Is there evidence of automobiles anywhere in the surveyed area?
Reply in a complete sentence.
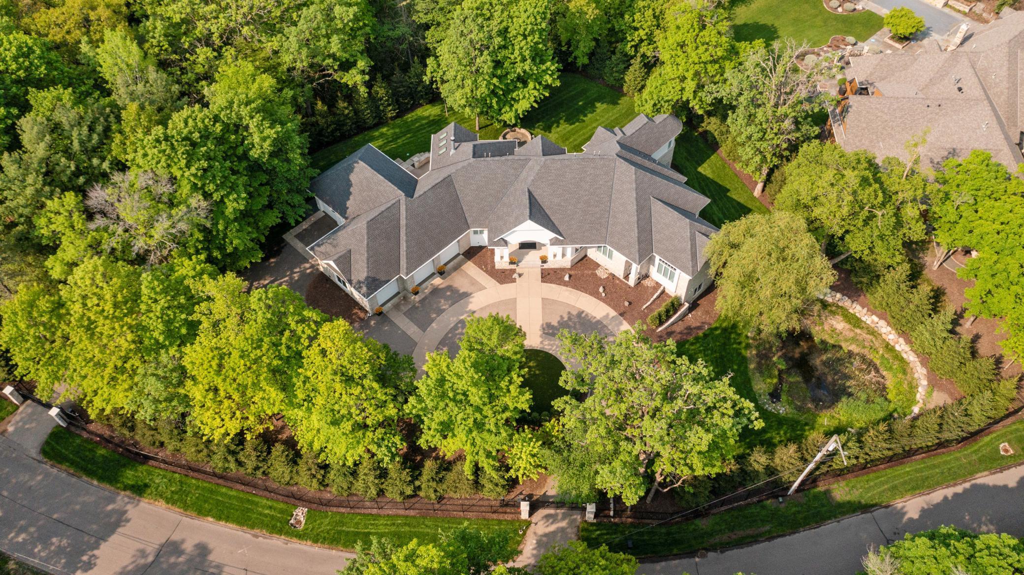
No, the picture doesn't show any automobile.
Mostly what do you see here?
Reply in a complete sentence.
The scene is dominated by trees.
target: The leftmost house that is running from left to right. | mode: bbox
[306,114,735,315]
